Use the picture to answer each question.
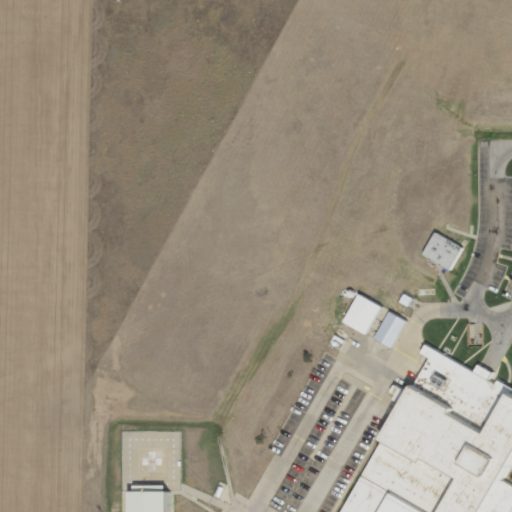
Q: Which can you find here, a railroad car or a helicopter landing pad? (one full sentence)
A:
Visible in the photo is a helicopter landing pad.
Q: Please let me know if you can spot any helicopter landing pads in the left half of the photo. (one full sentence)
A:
Yes, a helicopter landing pad can be seen in the left half of the photo.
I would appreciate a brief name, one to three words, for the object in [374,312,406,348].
shed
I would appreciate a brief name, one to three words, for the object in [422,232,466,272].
building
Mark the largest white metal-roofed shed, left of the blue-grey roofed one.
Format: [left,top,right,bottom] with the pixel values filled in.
[343,294,382,334]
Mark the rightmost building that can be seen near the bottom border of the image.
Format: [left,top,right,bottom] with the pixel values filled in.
[338,344,512,512]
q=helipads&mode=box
[122,431,182,491]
